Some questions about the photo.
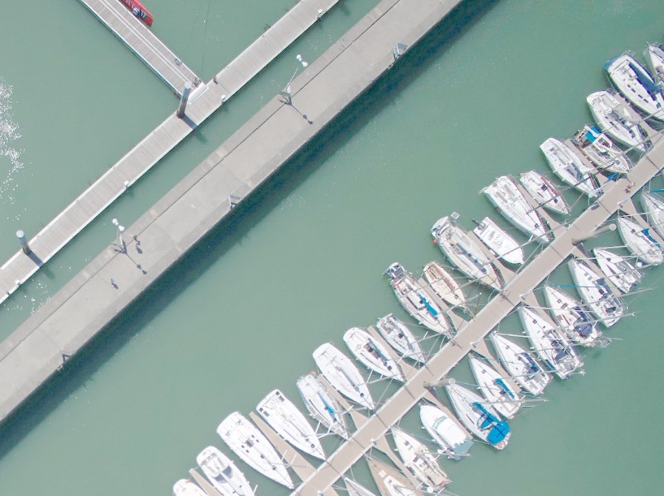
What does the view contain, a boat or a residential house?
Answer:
boat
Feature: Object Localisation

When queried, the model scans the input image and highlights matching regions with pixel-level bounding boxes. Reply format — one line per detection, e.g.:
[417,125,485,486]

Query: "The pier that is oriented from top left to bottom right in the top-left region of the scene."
[78,0,209,104]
